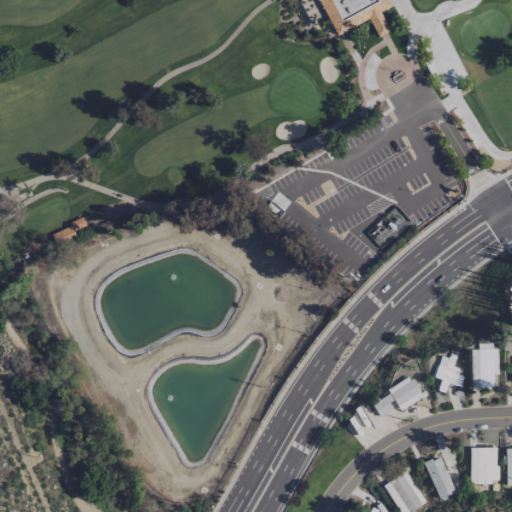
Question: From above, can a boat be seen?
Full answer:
No, there appears to be no boat in this shot.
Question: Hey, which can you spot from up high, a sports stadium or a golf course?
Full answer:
Of the two, only a golf course appears.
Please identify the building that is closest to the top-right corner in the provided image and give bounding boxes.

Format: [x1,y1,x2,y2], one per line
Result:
[321,0,394,36]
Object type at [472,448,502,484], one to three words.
house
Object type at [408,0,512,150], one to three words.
golf course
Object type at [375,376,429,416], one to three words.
house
